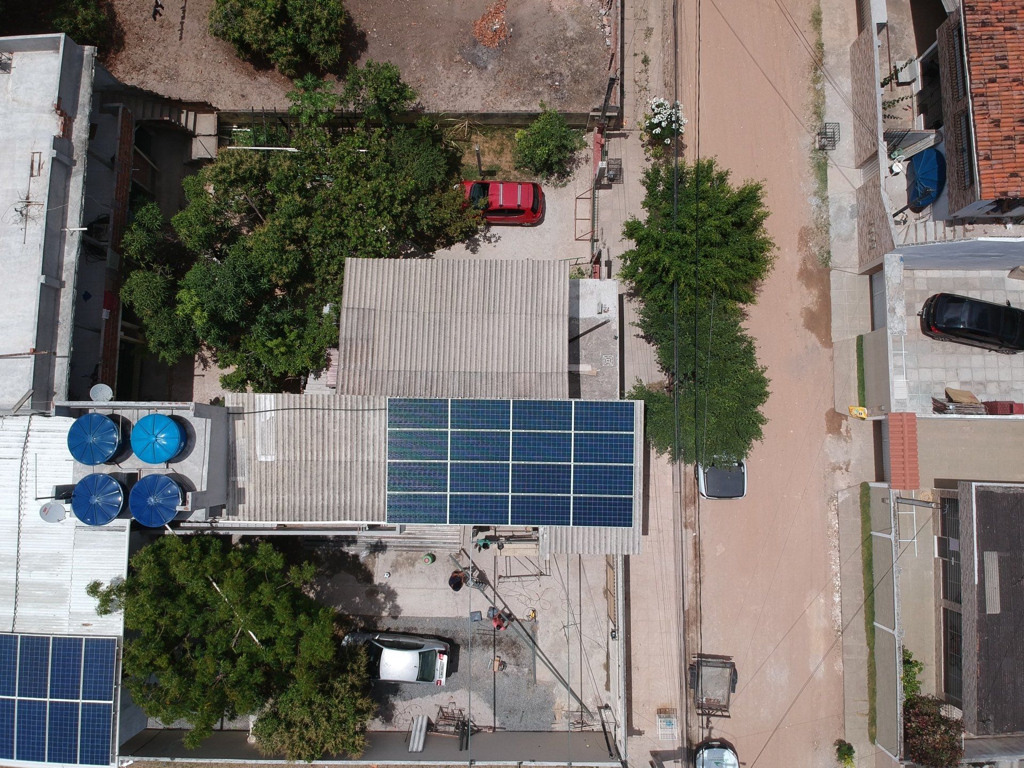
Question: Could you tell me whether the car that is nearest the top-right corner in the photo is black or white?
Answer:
black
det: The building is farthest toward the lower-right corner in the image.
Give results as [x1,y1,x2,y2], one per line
[918,479,1024,732]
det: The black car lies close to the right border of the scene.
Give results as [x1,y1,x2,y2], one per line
[918,293,1024,361]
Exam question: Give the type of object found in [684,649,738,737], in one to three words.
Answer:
trailer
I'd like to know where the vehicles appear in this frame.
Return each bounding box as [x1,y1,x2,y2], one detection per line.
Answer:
[691,738,744,768]
[445,176,549,230]
[918,293,1024,361]
[337,622,456,683]
[692,451,743,496]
